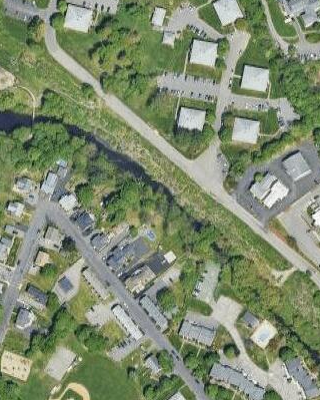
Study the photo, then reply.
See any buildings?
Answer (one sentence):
Yes, the photo shows a building.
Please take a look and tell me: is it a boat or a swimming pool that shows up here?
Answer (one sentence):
I can see a swimming pool in this picture.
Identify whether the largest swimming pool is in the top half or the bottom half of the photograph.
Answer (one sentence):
The largest swimming pool sits in the bottom half of the picture.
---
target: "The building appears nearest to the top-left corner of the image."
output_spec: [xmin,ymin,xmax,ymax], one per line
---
[62,3,93,32]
